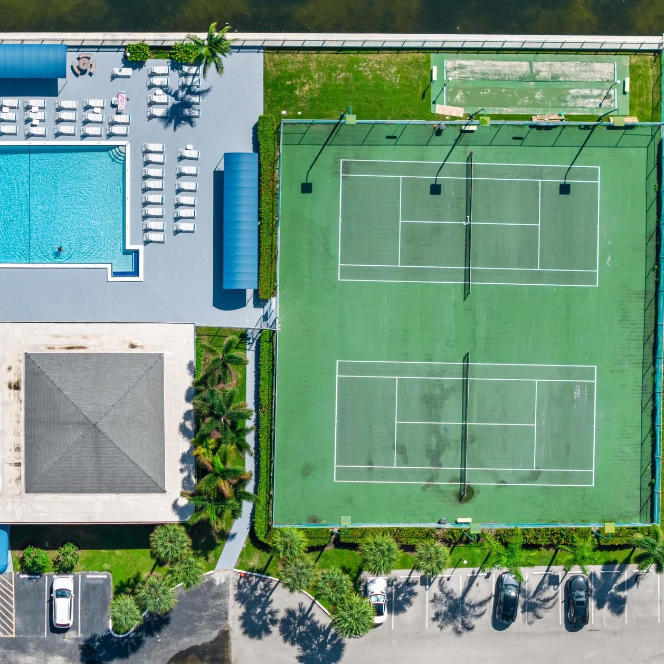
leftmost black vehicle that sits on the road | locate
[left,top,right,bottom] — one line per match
[496,571,520,624]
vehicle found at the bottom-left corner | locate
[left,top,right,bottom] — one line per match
[50,574,75,628]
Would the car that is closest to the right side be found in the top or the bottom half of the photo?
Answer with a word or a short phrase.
bottom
